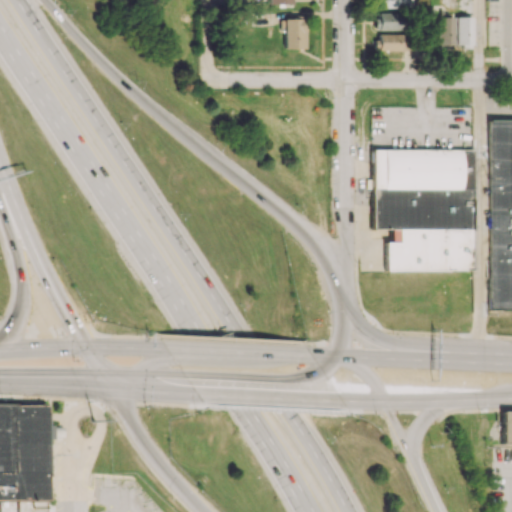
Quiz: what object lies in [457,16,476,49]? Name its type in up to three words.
house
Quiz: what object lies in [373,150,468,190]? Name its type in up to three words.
building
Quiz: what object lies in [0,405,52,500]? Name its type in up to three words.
building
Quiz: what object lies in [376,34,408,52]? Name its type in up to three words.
house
